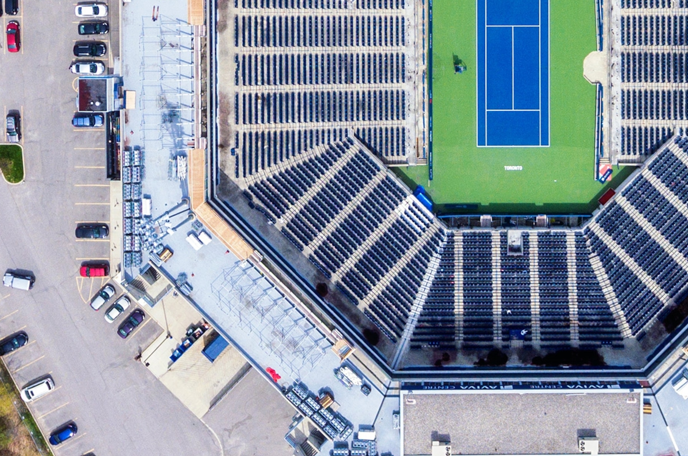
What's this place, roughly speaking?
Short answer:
sports ground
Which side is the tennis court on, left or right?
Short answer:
right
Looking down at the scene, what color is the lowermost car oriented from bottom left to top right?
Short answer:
blue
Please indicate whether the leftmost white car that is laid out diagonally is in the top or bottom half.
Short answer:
bottom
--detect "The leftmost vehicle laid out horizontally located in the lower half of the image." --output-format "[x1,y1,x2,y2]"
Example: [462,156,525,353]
[3,271,37,289]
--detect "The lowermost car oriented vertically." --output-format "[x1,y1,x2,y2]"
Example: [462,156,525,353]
[6,111,21,143]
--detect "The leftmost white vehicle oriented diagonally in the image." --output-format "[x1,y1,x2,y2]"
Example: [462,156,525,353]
[21,375,57,403]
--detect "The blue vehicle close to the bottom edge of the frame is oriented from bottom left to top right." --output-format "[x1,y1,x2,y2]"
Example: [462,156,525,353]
[48,420,80,447]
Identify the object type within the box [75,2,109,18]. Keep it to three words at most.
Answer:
car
